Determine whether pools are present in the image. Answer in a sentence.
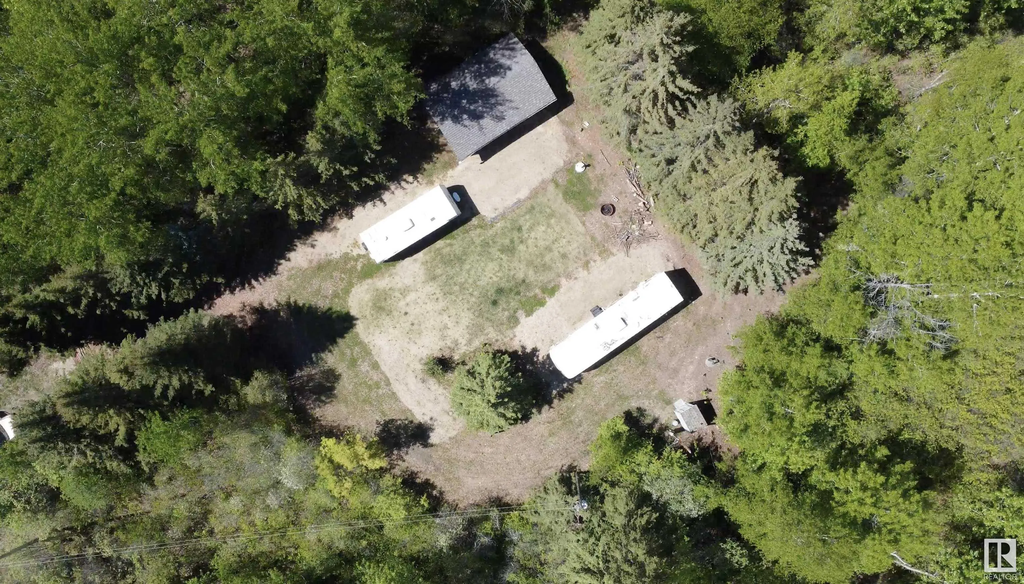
No, the photo shows no pool.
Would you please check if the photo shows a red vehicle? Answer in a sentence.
No, the frame has no red vehicle in it.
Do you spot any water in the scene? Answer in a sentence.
No, the picture contains no water.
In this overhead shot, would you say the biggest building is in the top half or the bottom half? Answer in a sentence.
Seen from above, the biggest building lies in the top half of the view.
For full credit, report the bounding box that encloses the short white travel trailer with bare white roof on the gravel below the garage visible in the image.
[361,184,470,263]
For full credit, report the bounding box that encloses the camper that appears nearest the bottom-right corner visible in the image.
[552,273,685,378]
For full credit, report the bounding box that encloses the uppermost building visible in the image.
[422,31,556,164]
